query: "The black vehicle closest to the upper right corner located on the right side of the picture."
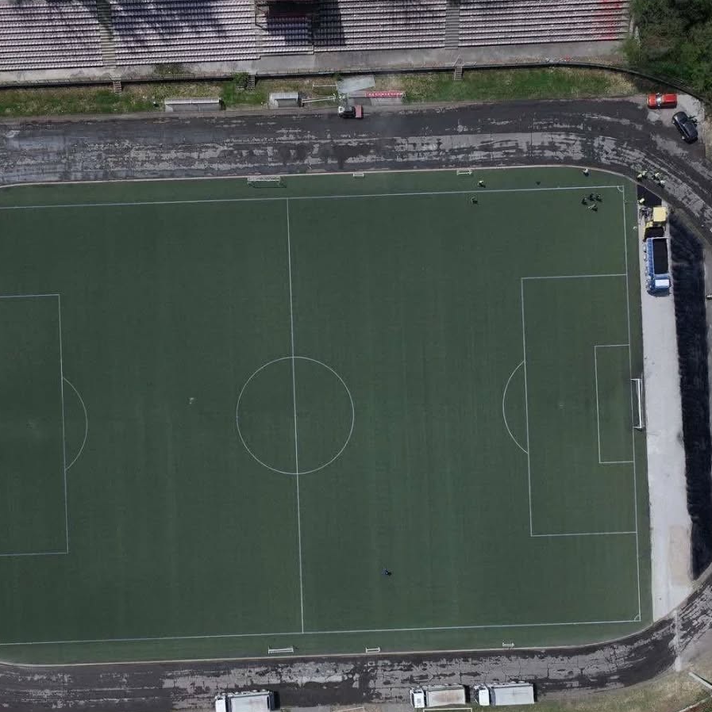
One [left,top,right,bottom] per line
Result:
[674,114,696,144]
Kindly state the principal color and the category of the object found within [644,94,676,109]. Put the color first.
red car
